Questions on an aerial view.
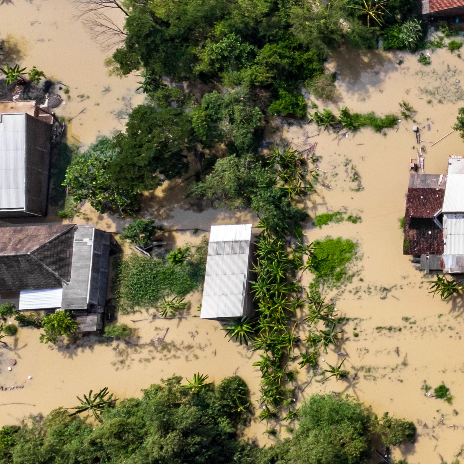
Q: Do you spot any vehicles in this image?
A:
No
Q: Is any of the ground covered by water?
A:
Yes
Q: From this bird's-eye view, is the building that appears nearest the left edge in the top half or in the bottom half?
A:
top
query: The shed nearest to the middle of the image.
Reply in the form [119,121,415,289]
[201,224,264,319]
